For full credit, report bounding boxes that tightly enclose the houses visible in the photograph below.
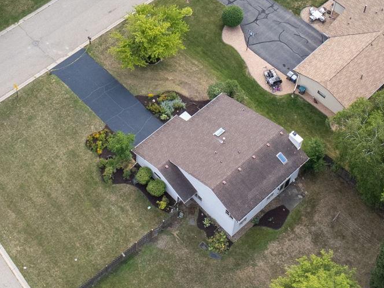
[293,0,384,121]
[132,94,310,236]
